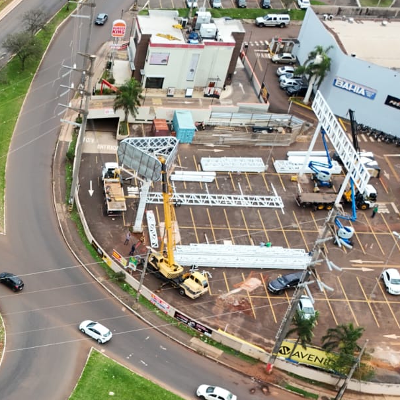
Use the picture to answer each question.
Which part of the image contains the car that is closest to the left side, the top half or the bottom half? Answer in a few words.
bottom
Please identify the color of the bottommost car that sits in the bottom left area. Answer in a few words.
white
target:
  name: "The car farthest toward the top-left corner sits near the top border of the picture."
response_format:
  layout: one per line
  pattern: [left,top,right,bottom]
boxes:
[95,11,109,25]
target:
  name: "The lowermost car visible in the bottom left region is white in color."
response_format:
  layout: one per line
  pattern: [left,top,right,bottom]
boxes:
[79,319,114,344]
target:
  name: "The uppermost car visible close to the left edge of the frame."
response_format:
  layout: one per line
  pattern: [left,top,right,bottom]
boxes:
[0,271,26,291]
